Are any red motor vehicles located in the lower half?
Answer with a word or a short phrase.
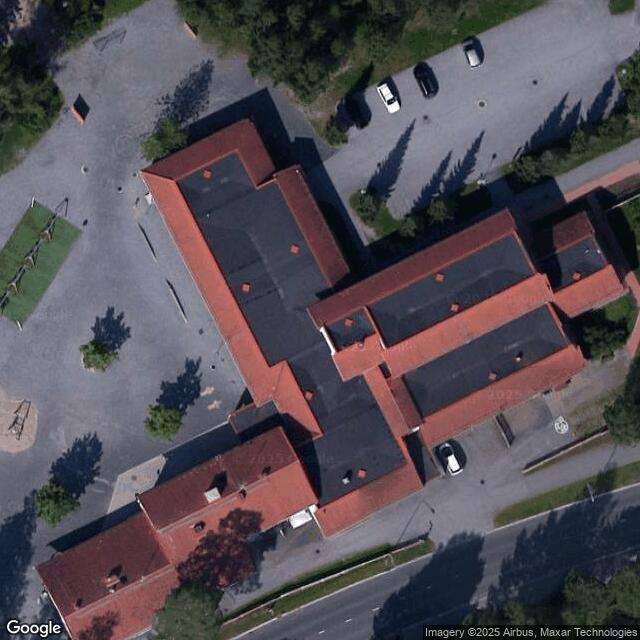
No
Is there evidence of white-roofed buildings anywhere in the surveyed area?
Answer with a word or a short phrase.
No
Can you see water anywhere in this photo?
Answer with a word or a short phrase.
No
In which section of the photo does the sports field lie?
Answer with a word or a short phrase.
left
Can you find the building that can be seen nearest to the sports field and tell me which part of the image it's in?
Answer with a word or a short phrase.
center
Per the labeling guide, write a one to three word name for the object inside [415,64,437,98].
car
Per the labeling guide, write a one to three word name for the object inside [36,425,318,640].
house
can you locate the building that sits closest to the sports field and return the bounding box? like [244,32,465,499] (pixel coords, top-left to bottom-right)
[141,118,441,539]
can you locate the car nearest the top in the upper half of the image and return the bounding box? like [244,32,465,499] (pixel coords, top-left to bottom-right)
[463,40,482,69]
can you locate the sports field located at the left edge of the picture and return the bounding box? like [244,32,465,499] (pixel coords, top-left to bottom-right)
[0,200,82,321]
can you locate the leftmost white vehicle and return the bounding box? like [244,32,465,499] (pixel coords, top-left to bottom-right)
[376,82,401,114]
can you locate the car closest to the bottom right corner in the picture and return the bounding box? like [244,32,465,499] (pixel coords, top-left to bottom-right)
[438,441,461,476]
